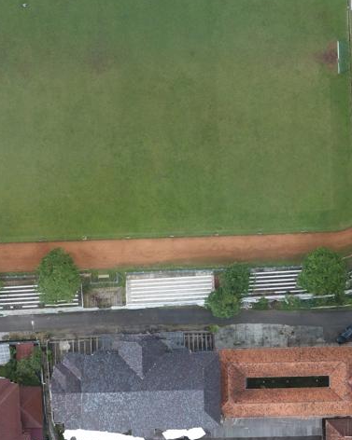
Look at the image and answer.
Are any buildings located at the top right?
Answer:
No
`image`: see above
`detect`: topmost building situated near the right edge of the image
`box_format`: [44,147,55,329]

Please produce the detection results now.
[220,344,352,419]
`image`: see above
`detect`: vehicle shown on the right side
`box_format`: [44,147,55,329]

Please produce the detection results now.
[336,326,352,346]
